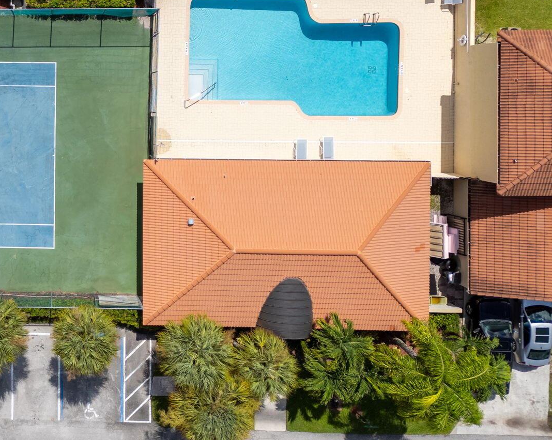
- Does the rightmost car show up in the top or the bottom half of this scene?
bottom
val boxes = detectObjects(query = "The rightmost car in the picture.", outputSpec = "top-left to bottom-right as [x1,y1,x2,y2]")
[518,301,552,370]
